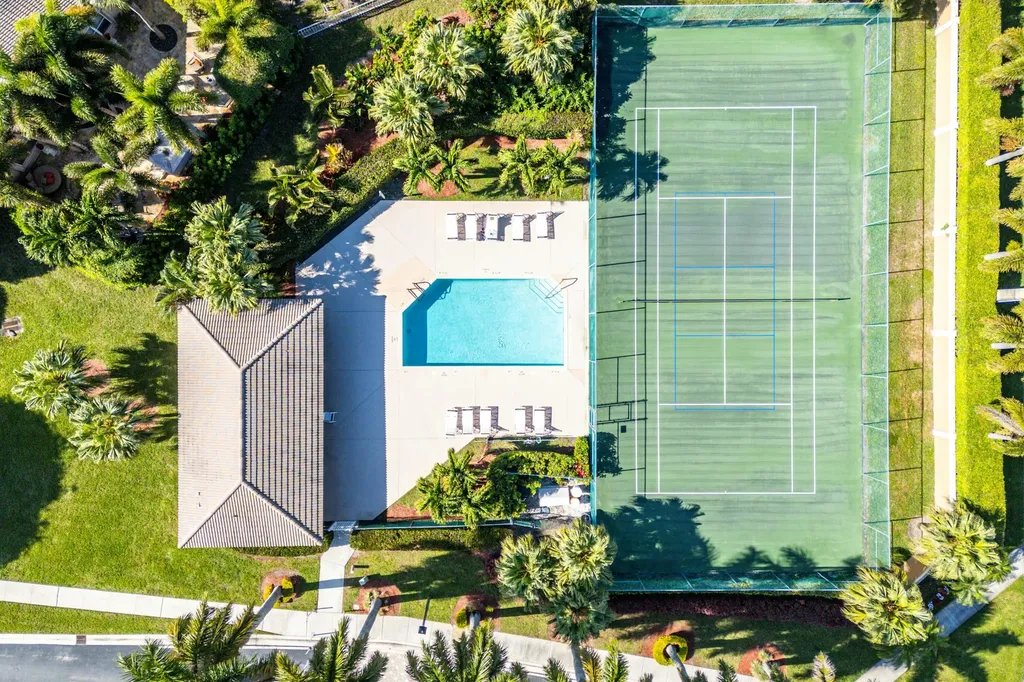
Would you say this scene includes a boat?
No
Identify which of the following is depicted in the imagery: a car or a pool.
pool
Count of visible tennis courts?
1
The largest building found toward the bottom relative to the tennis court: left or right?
to the left of it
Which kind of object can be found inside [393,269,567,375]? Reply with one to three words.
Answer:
swimming pool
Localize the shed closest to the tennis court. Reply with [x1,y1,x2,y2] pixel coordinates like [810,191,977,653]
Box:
[539,485,570,507]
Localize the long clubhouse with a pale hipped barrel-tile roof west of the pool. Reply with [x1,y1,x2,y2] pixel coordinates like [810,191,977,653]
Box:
[175,297,325,550]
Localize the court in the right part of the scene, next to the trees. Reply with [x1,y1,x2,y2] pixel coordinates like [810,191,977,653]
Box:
[590,24,869,574]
